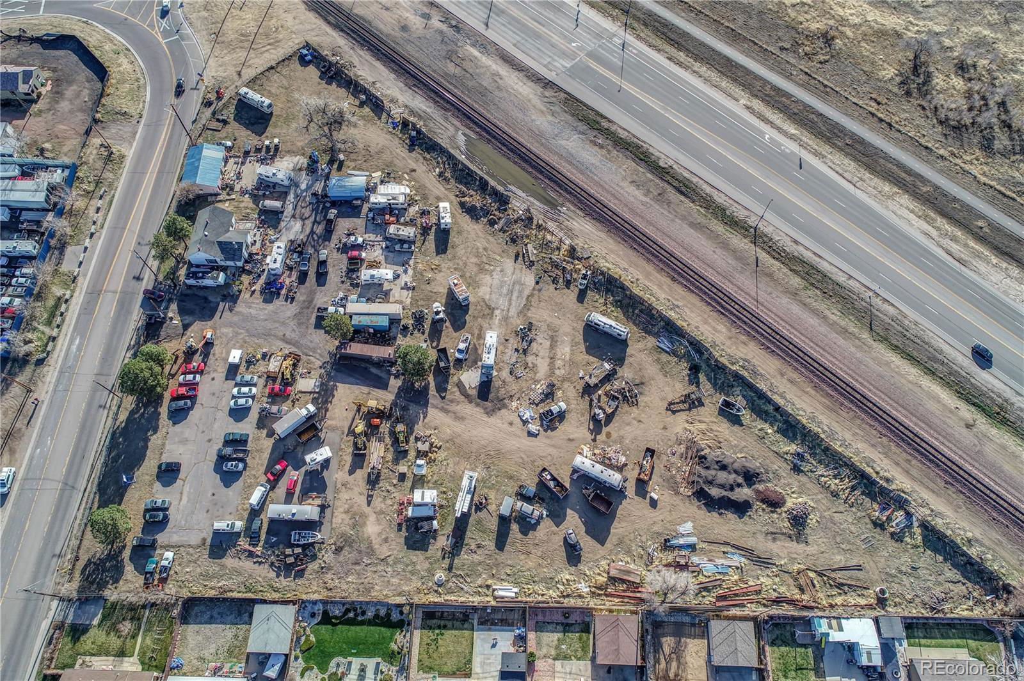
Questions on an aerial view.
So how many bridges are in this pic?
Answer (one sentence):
The picture shows no bridges.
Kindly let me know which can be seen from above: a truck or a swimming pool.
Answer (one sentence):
This aerial view contains a truck.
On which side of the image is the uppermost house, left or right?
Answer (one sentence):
It is on the left.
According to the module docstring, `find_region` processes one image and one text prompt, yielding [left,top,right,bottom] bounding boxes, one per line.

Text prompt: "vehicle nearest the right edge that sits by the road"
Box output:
[970,343,993,361]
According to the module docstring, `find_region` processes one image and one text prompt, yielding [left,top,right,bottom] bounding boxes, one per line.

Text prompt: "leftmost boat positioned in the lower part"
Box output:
[289,530,327,545]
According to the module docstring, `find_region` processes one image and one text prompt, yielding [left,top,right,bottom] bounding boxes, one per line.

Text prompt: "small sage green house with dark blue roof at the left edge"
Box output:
[0,71,46,101]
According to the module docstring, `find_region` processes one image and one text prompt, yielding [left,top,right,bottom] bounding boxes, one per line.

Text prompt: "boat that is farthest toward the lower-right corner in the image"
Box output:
[718,396,744,415]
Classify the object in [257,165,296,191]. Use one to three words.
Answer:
camper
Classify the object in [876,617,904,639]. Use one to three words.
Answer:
shed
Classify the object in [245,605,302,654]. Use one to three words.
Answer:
building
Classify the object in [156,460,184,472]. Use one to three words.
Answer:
vehicle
